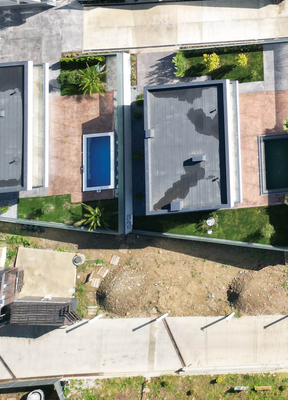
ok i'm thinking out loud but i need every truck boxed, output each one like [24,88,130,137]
[25,377,57,400]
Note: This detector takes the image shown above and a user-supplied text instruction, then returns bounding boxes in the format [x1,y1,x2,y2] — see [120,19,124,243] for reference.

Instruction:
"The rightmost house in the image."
[143,80,242,215]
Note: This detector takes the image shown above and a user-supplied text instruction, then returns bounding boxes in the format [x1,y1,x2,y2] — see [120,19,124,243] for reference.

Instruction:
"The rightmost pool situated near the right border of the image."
[257,134,288,196]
